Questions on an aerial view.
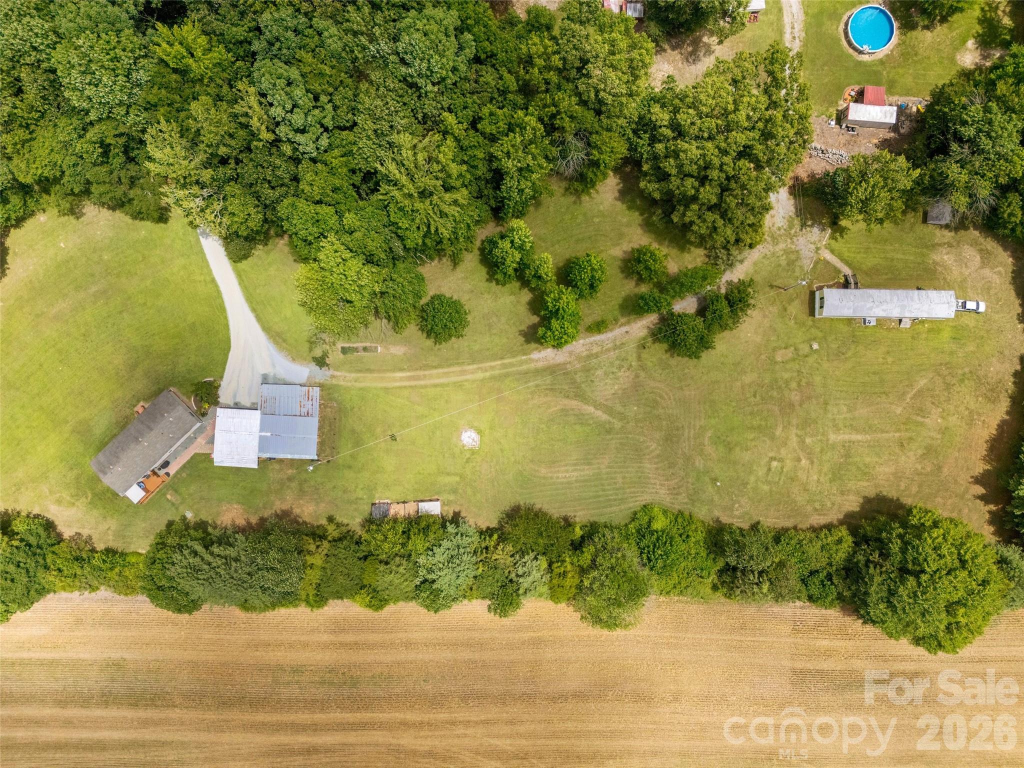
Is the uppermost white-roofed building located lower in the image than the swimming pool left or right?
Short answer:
right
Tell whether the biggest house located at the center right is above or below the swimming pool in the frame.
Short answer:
below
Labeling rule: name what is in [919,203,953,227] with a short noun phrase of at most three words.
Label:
shed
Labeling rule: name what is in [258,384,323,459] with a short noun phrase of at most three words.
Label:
barn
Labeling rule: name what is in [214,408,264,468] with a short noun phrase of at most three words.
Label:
barn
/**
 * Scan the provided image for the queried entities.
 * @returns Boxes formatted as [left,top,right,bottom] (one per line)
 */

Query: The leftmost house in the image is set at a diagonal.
[91,390,205,495]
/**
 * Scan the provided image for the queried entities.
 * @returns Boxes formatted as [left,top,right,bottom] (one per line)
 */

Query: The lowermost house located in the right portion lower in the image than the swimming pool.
[814,289,956,320]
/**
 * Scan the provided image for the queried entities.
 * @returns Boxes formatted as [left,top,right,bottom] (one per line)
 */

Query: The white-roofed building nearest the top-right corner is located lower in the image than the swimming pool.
[840,103,897,129]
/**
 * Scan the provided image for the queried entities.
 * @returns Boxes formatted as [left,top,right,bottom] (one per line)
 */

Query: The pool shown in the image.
[845,6,895,56]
